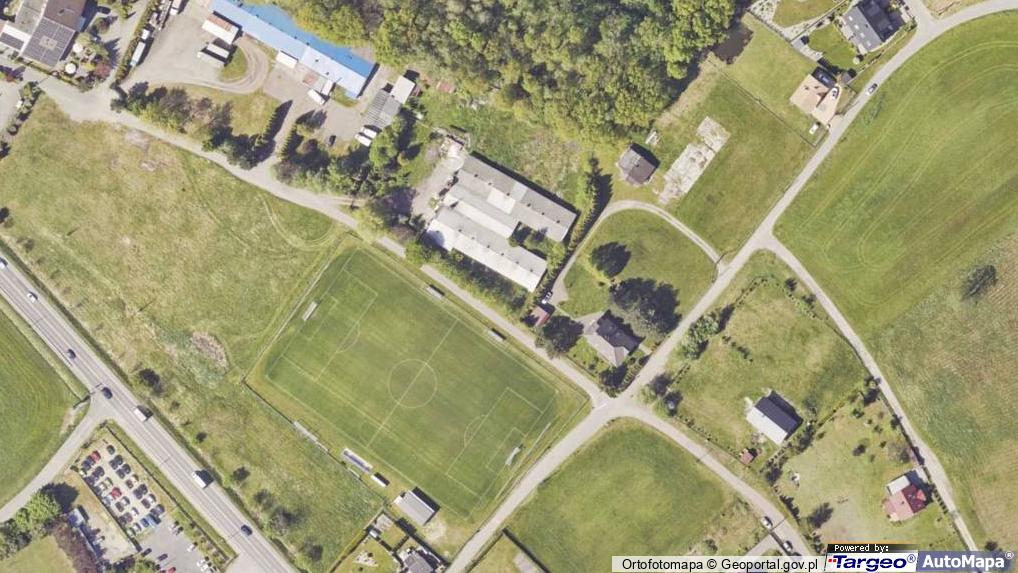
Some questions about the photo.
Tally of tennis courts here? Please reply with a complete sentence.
The picture shows no tennis courts.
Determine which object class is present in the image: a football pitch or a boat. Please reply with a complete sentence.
Of the two, only a football pitch appears.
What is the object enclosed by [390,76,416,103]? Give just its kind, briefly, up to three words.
shed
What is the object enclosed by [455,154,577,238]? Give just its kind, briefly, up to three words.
building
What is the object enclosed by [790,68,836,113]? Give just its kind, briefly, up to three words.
house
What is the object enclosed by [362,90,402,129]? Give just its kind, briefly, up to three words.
shed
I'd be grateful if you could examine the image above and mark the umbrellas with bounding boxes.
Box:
[66,63,77,74]
[73,43,83,53]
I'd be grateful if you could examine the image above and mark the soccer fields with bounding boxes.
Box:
[264,246,561,521]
